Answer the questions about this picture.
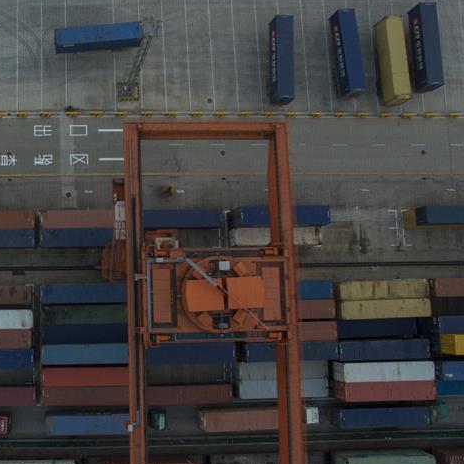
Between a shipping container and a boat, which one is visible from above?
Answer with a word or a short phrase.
shipping container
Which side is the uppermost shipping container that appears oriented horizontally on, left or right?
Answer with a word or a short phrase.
left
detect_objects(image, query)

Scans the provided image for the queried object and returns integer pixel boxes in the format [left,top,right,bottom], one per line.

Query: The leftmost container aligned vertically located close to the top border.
[269,18,295,104]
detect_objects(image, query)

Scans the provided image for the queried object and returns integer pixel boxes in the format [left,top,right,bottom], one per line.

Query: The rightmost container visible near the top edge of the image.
[407,4,445,91]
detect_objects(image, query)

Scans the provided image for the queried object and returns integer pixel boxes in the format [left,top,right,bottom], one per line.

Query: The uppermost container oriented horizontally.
[54,24,141,53]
